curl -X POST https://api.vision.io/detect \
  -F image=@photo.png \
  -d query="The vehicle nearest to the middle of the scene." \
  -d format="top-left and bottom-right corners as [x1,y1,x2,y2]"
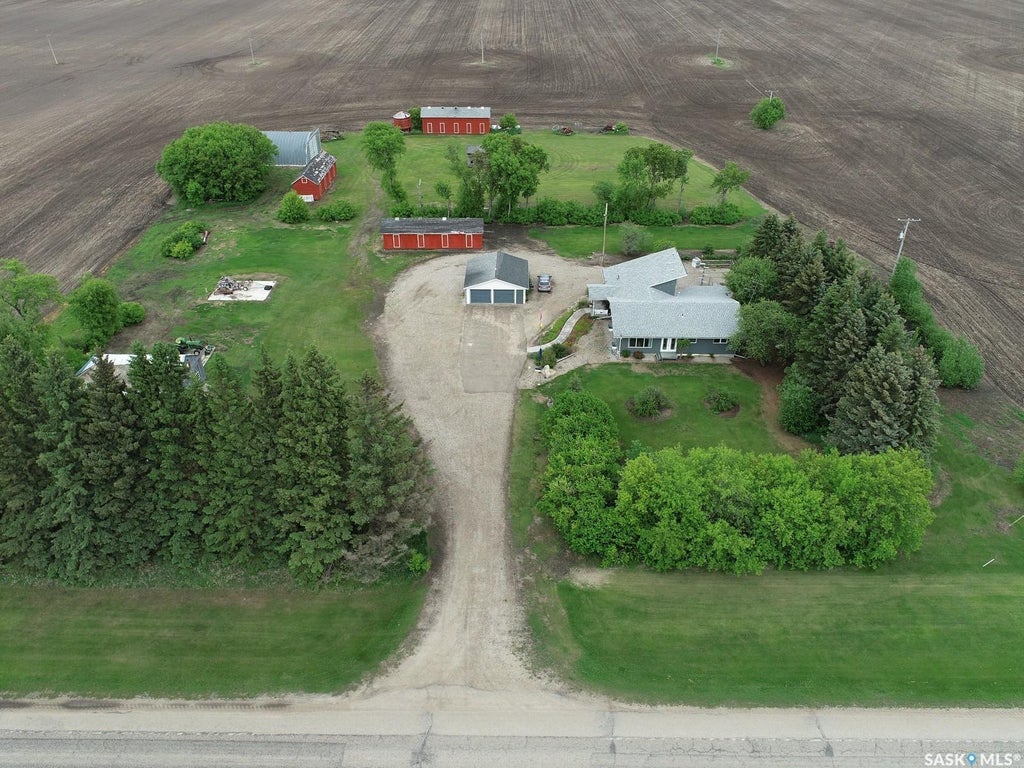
[536,273,551,288]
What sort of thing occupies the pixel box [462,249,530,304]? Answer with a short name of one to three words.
building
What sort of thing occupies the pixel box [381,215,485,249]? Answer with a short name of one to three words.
shed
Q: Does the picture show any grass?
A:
Yes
